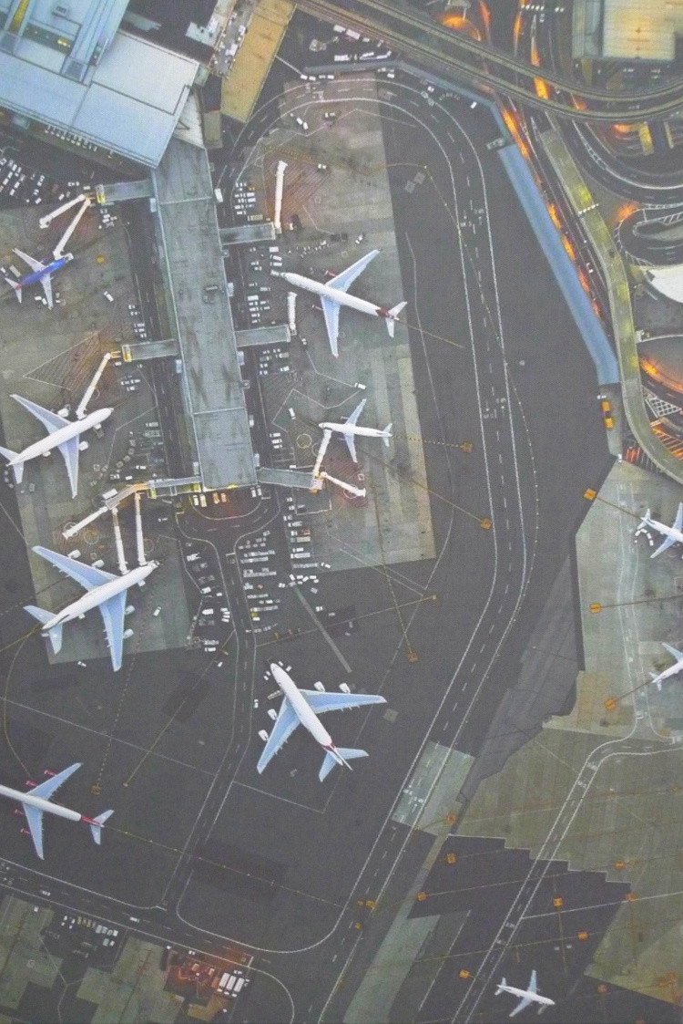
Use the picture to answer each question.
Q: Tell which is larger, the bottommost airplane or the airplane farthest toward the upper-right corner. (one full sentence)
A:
The bottommost airplane is smaller than the airplane farthest toward the upper-right corner.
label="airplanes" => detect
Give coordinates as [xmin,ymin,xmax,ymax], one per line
[635,502,683,559]
[0,394,113,500]
[0,764,115,863]
[262,663,385,786]
[491,969,555,1017]
[319,399,397,462]
[7,249,68,312]
[647,643,683,694]
[280,248,409,360]
[23,545,158,677]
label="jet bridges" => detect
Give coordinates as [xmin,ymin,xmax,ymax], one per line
[52,197,93,261]
[109,506,130,576]
[282,288,297,333]
[73,350,112,421]
[58,503,111,541]
[132,492,148,567]
[311,425,332,474]
[271,158,288,232]
[320,470,370,497]
[35,191,89,230]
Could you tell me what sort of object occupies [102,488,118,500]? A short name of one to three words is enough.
vehicle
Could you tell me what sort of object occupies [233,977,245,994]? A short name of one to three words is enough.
vehicle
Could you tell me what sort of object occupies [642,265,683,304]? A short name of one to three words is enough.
building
